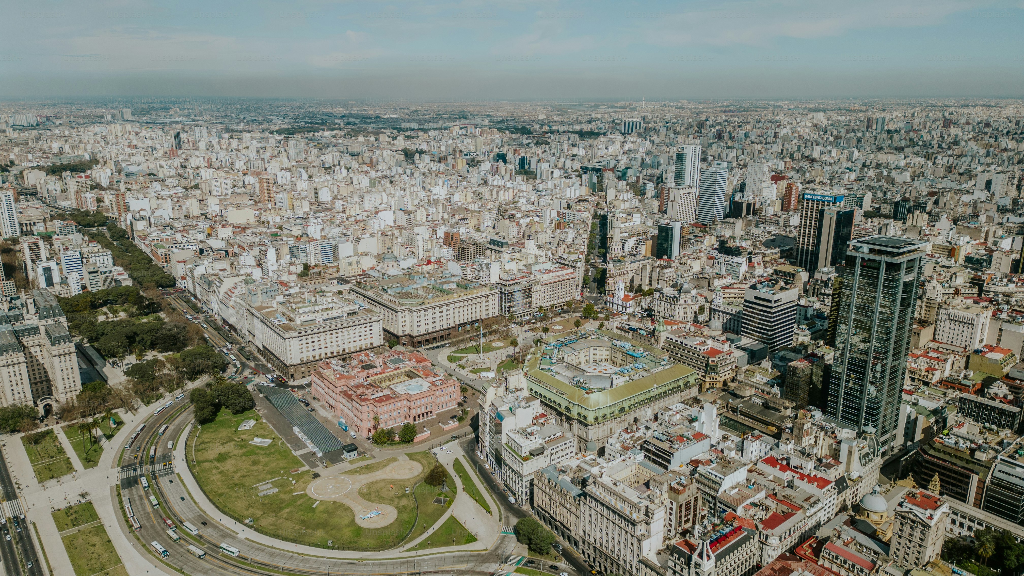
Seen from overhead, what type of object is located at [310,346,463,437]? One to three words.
building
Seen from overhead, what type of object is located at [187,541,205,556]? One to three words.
vehicle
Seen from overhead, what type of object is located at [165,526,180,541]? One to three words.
vehicle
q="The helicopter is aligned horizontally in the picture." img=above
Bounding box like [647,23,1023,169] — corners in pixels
[360,503,387,517]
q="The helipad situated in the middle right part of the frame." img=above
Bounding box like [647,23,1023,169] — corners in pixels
[859,238,916,250]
